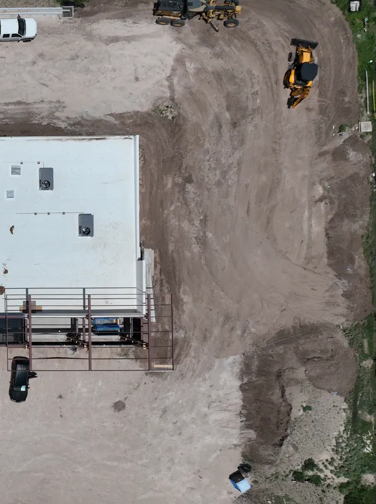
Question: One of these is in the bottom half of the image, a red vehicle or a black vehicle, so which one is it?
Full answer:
Looking in the bottom half of the image, you will find a black vehicle.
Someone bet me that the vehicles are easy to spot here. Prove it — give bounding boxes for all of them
[8,356,37,403]
[154,0,243,30]
[281,36,321,104]
[0,14,37,43]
